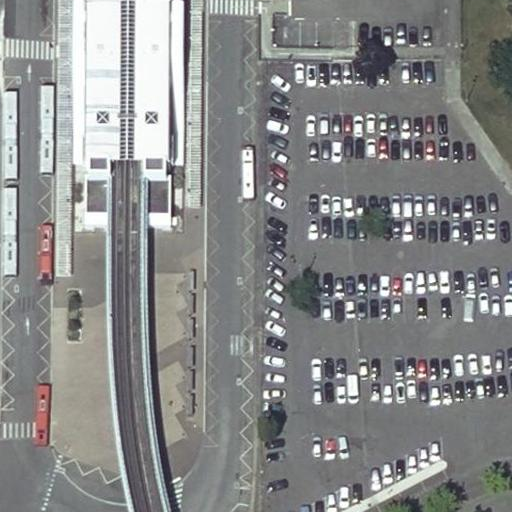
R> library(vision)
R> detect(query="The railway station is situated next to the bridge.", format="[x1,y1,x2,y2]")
[74,0,184,231]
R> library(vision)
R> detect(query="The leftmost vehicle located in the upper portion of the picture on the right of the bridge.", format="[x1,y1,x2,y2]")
[242,148,256,202]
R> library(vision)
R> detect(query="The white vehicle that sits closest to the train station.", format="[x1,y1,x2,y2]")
[40,84,56,177]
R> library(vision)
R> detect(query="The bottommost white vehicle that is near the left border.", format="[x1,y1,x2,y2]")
[4,187,20,278]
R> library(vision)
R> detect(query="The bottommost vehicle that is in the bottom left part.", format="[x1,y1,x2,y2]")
[33,384,52,448]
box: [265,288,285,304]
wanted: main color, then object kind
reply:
white car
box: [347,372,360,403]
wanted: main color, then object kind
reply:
white vehicle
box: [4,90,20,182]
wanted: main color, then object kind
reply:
white vehicle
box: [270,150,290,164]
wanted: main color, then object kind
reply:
white car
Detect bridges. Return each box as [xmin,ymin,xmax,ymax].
[107,160,172,512]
